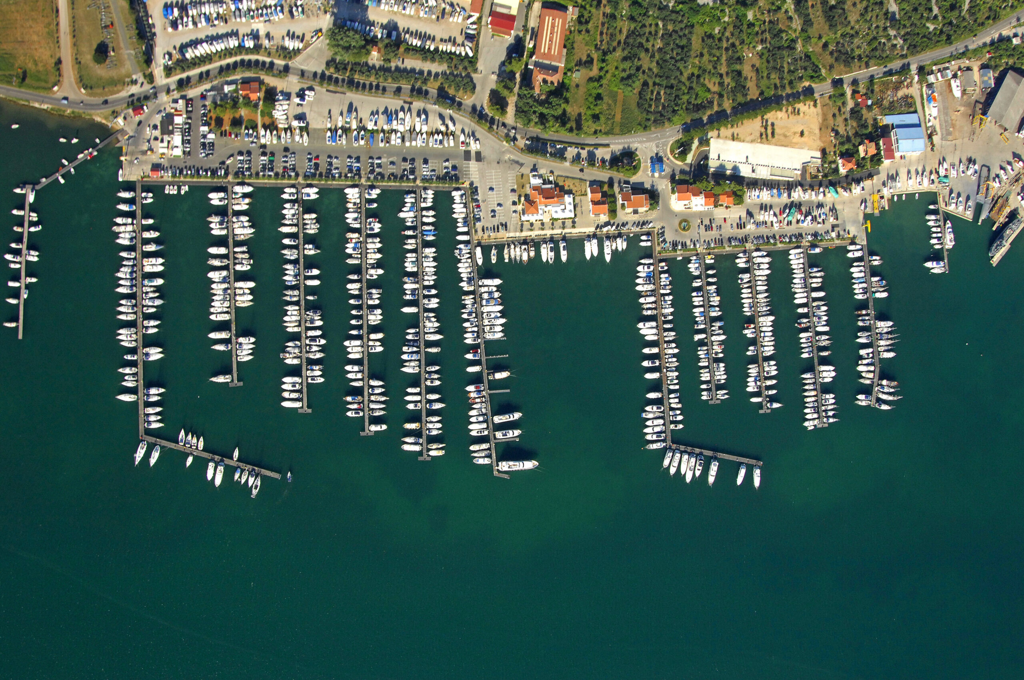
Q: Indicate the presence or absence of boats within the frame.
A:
Yes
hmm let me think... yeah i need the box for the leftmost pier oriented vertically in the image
[18,185,32,339]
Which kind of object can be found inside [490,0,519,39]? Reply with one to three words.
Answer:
building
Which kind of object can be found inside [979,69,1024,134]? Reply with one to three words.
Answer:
building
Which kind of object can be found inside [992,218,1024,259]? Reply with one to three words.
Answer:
ship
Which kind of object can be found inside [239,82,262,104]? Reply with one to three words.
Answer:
house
